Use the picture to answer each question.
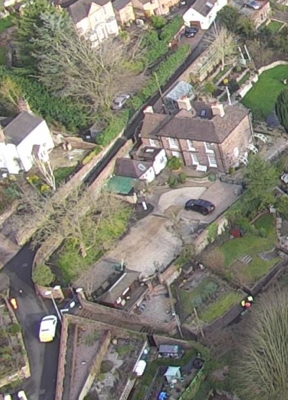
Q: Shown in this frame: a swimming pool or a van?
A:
van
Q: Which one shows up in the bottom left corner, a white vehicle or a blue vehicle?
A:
white vehicle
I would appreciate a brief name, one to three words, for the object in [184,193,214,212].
car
